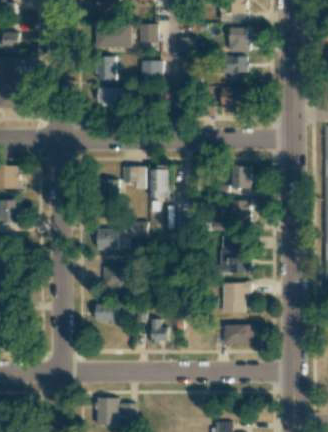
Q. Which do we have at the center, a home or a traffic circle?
home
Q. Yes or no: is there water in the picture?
No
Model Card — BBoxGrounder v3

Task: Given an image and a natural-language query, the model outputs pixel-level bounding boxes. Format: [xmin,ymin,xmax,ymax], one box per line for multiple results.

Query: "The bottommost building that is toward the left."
[97,398,139,426]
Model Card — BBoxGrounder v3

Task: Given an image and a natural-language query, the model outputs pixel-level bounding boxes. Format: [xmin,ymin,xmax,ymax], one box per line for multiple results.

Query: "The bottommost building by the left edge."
[0,200,18,223]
